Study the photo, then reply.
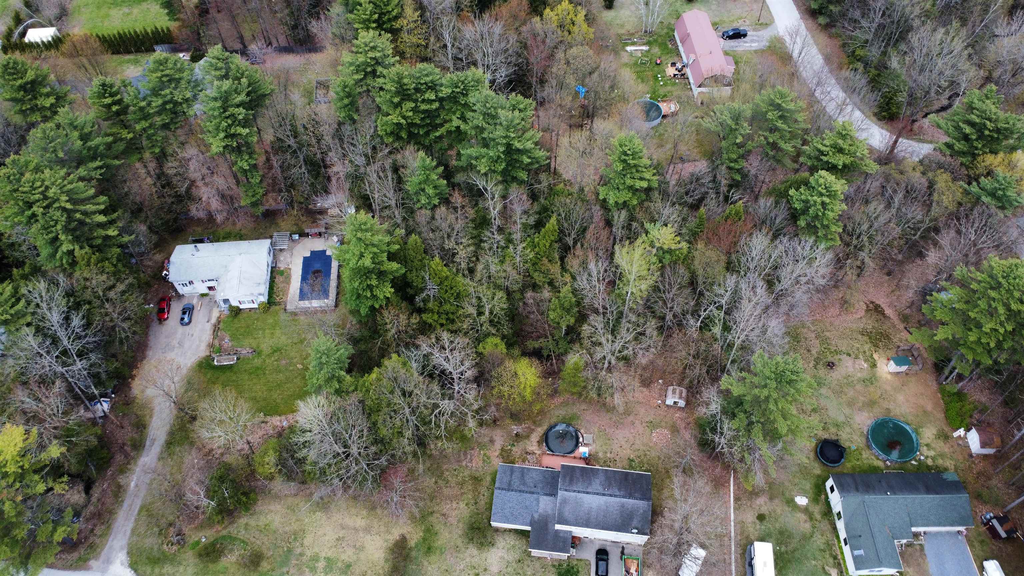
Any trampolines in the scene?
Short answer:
Yes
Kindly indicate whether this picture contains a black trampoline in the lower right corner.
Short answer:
Yes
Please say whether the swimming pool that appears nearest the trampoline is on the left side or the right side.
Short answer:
right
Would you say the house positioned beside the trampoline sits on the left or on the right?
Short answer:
right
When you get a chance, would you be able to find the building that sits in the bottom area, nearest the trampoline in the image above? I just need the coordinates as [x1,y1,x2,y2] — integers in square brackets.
[825,470,977,574]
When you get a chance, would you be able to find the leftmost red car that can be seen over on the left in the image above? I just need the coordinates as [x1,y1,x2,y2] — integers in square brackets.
[156,296,172,321]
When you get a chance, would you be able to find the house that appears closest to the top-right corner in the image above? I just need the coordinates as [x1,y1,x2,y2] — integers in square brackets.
[676,9,737,98]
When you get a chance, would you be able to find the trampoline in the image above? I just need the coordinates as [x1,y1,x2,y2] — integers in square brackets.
[816,434,849,466]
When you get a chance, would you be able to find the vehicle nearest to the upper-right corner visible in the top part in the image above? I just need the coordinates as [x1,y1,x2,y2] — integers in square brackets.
[721,29,749,41]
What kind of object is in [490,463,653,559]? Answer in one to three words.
house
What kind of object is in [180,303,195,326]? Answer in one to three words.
car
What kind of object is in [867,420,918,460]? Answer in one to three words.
swimming pool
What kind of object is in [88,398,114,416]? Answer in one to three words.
vehicle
